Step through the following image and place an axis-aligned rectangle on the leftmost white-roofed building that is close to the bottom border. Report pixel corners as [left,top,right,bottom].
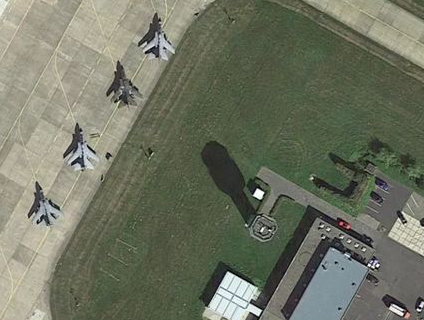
[207,271,261,320]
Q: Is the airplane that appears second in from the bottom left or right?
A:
left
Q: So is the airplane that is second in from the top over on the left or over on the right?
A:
left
